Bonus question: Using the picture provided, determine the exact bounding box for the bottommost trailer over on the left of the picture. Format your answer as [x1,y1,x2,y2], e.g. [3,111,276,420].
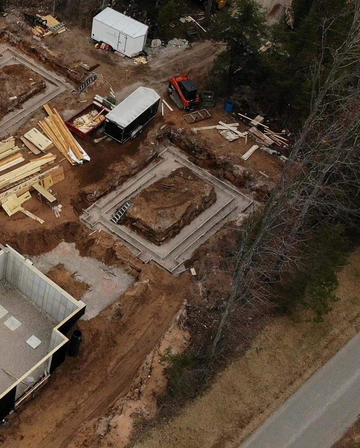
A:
[101,88,161,144]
